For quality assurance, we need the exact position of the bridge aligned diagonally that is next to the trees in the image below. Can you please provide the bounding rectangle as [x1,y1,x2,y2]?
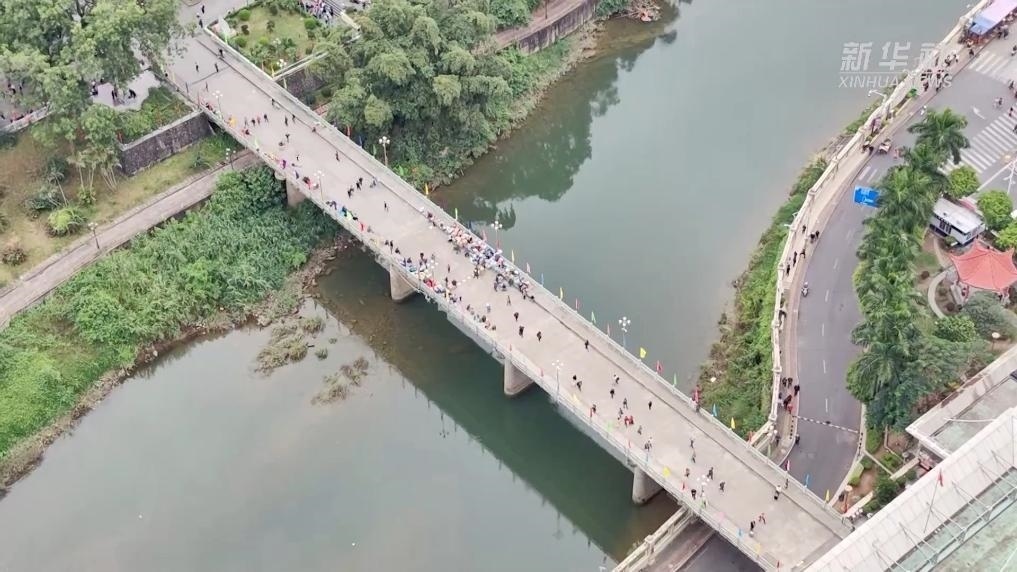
[170,44,852,572]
